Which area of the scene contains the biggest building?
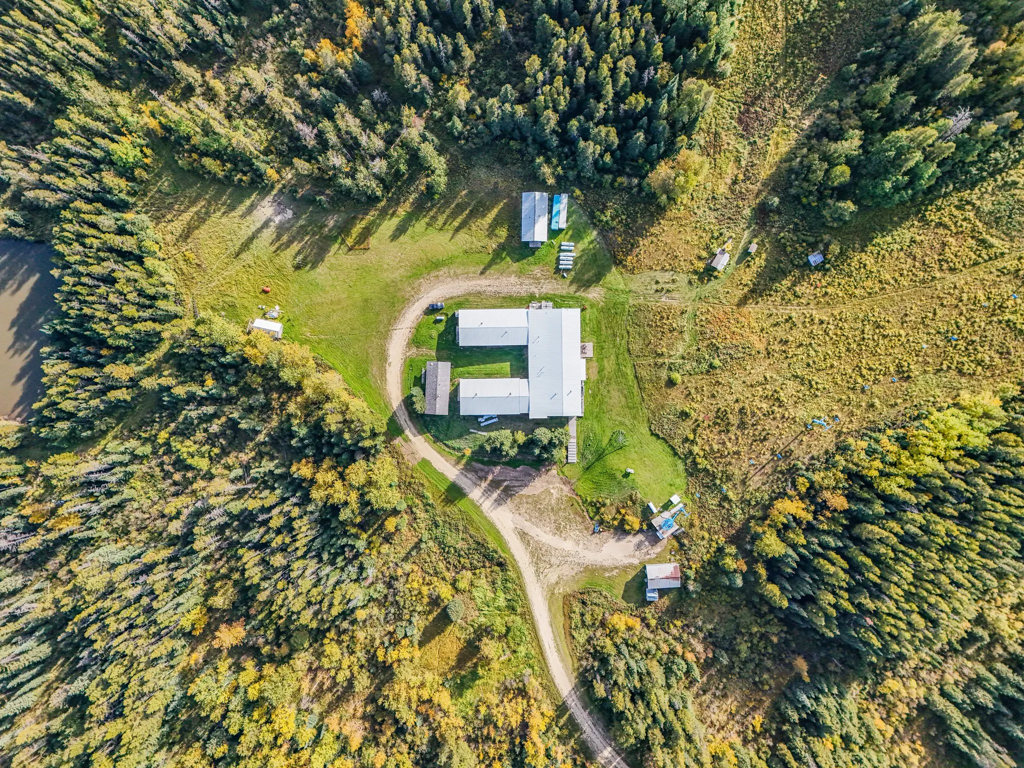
center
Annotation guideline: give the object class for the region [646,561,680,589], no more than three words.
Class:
building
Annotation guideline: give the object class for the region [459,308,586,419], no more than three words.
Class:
building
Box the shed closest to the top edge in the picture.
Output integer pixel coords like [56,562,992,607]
[521,192,548,242]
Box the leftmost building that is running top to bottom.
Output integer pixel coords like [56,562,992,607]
[424,361,451,415]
